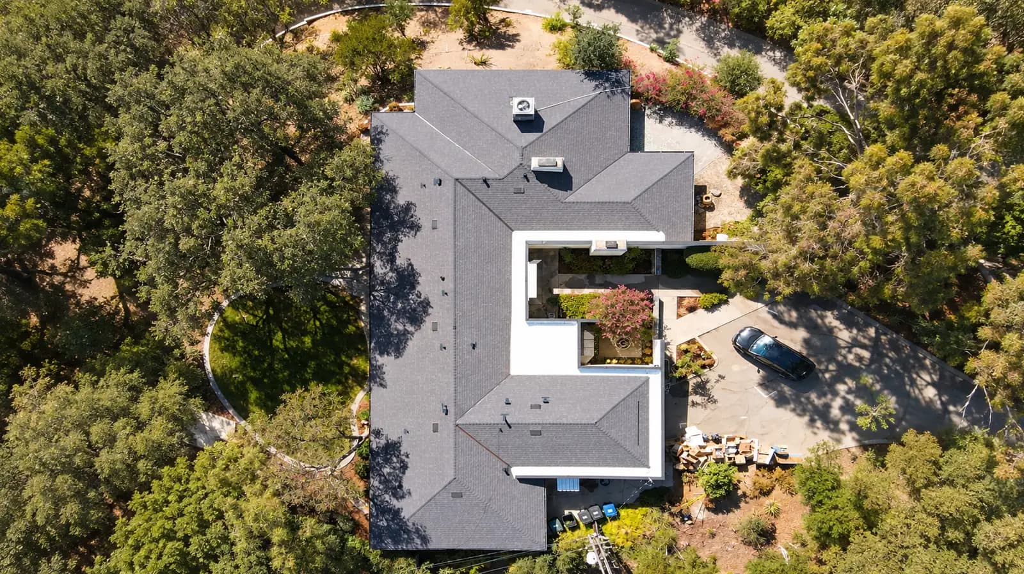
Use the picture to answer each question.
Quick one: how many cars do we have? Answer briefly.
1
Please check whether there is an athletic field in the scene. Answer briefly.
No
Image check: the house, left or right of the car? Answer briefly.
to the left of it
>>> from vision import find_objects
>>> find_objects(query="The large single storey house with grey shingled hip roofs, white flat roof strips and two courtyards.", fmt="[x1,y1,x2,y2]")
[368,66,754,551]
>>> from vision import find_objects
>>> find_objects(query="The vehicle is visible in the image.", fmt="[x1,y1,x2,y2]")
[730,324,818,382]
